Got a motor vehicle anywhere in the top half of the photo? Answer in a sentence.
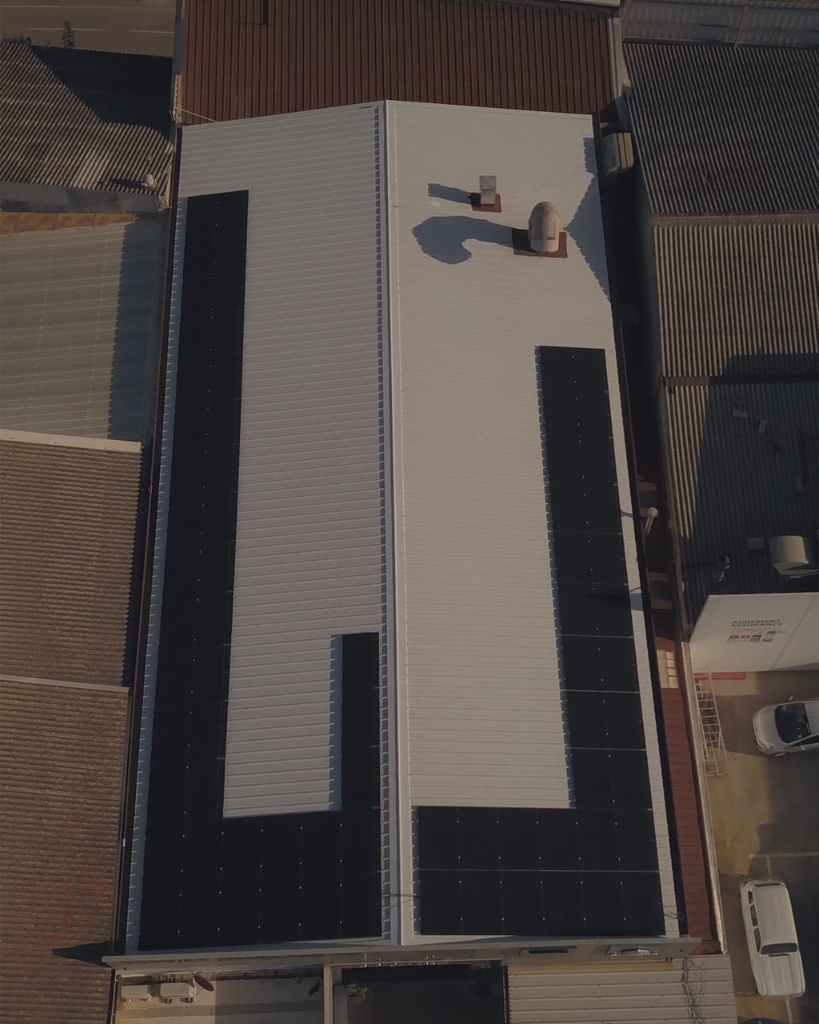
No, looking in the top half of the photo, there is no motor vehicle.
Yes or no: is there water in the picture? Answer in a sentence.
No, the scene doesn't show any water.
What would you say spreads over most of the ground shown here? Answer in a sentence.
For the most part, this view shows buildings.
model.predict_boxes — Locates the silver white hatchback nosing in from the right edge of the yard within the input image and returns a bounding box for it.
[750,690,819,753]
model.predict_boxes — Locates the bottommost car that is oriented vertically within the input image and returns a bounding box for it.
[739,875,806,1000]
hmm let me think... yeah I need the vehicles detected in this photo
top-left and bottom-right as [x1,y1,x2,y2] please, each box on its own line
[737,1014,781,1024]
[750,690,819,753]
[739,875,806,1000]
